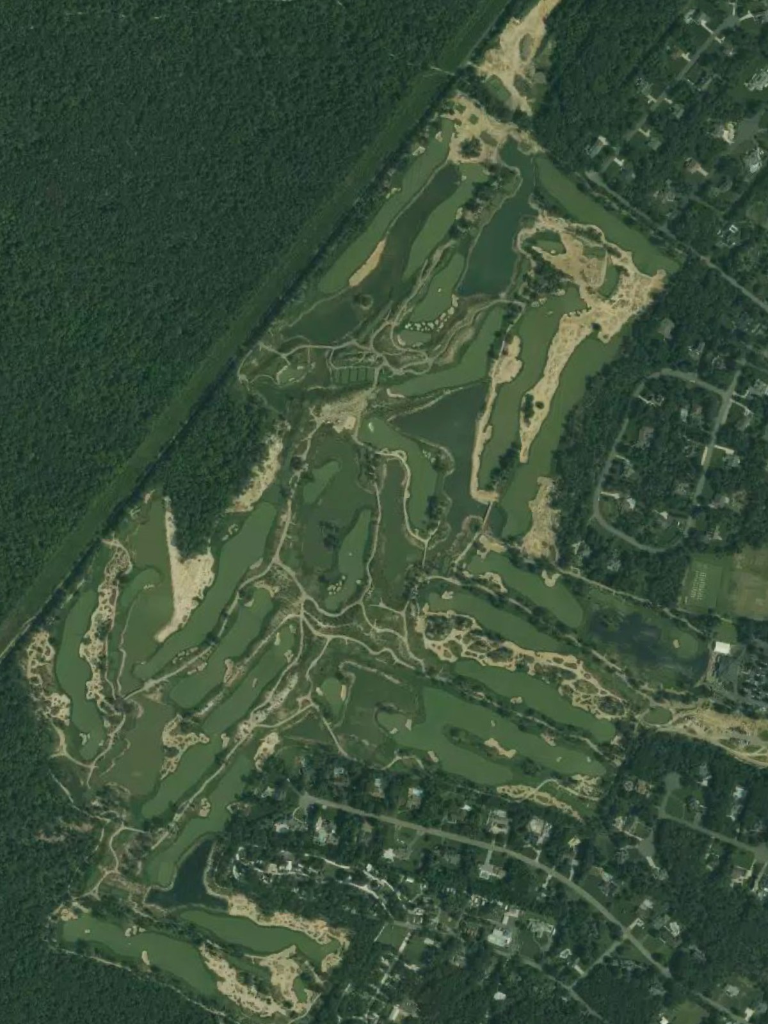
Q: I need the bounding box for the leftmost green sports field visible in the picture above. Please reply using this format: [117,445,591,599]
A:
[682,561,723,607]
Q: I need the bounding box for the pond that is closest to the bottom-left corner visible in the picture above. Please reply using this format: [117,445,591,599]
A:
[143,837,227,913]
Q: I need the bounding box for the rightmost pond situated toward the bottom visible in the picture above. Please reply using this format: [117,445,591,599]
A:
[589,613,708,680]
